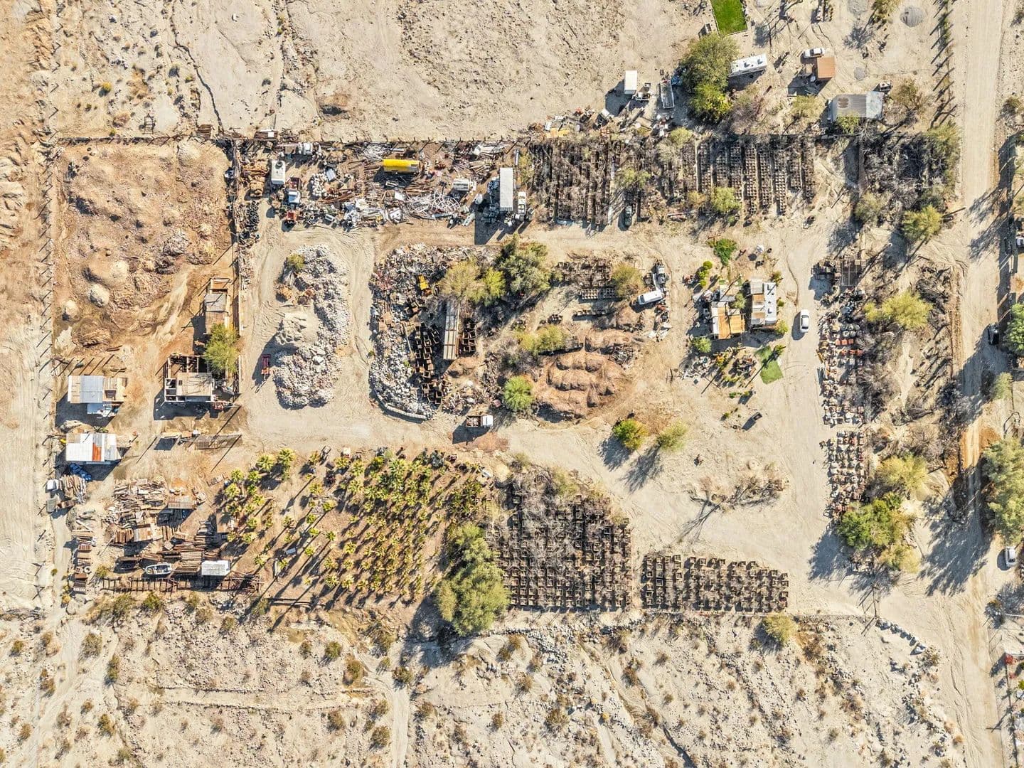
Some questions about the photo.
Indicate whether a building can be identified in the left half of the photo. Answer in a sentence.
Yes, the scene does show a building in the left half of the photo.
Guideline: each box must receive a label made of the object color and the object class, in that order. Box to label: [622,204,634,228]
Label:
gray vehicle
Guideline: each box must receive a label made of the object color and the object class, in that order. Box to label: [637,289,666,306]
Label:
white vehicle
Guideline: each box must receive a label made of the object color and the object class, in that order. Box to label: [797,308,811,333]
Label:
white car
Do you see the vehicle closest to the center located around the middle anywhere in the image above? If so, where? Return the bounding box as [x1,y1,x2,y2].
[466,415,494,427]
